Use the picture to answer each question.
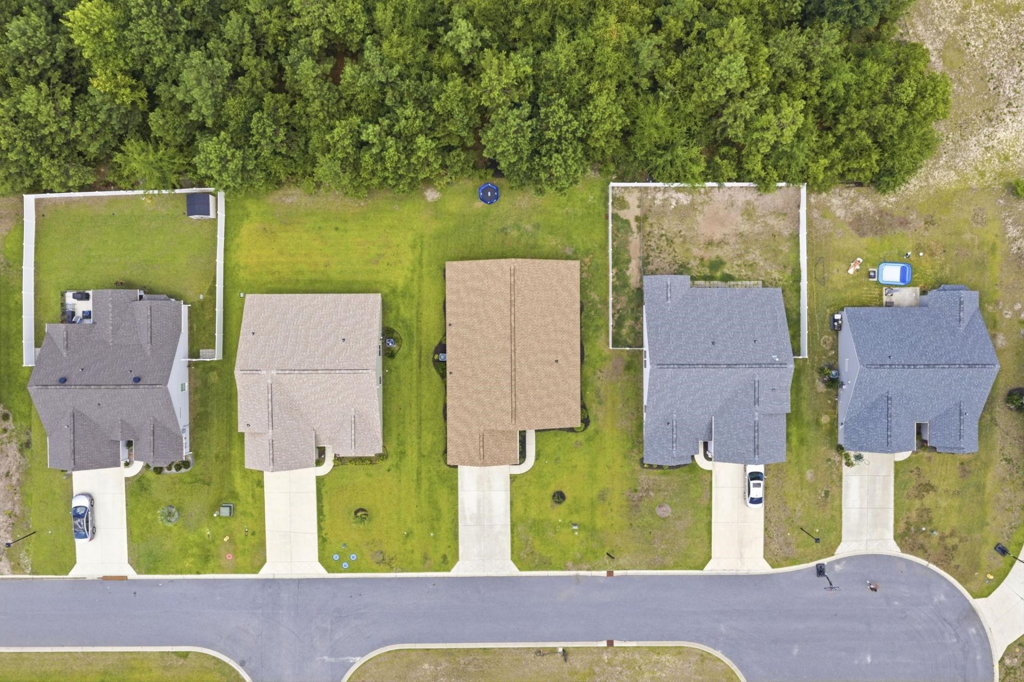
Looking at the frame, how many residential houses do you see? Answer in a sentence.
Altogether the scene contains 5 residential houses.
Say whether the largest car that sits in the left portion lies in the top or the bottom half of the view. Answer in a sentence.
Seen from above, the largest car that sits in the left portion lies in the bottom half of the view.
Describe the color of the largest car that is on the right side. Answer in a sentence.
The color of the largest car that is on the right side is white.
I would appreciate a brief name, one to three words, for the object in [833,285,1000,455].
house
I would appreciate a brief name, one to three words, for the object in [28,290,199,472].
house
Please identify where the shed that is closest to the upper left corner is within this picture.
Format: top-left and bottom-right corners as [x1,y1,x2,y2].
[186,192,217,217]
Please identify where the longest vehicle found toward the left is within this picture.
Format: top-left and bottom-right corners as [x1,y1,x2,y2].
[68,492,96,542]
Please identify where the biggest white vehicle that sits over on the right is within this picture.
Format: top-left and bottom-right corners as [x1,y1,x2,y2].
[743,465,767,508]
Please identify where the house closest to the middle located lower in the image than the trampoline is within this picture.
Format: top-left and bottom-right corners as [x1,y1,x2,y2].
[446,259,581,467]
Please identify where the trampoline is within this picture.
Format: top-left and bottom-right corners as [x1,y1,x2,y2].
[479,181,498,204]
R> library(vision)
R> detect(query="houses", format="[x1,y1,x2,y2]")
[833,285,1000,455]
[28,290,199,472]
[641,275,794,467]
[446,259,581,467]
[235,295,384,473]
